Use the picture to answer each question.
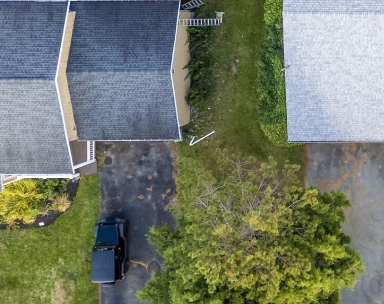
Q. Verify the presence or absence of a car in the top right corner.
No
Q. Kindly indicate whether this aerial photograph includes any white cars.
No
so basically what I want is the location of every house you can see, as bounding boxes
[282,0,384,143]
[0,0,192,191]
